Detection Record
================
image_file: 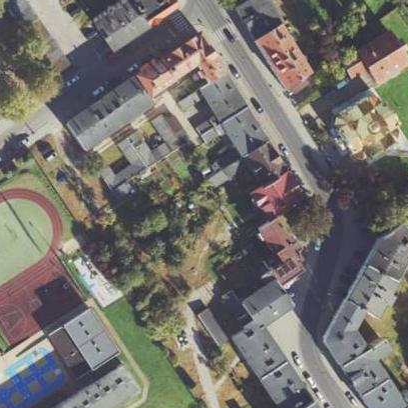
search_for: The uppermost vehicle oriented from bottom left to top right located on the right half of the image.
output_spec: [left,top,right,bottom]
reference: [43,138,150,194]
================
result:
[333,77,350,91]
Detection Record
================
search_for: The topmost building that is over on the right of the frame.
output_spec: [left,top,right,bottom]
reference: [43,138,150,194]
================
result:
[237,0,286,40]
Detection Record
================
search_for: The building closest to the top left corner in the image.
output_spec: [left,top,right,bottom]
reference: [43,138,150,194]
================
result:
[93,0,152,54]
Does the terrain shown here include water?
No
